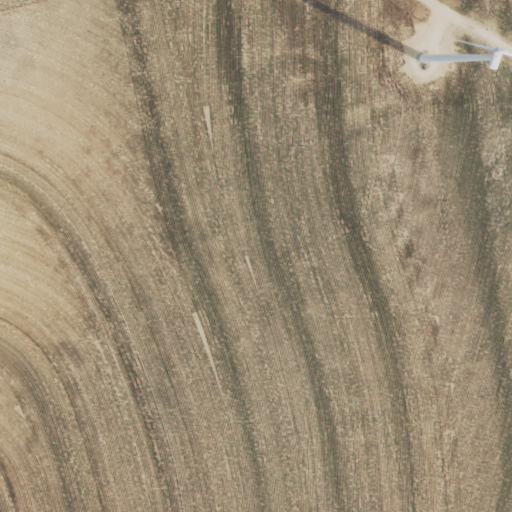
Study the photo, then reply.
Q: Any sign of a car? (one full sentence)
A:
No, there's no car here.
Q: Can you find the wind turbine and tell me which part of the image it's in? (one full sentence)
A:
The wind turbine appears toward the top right of the photo.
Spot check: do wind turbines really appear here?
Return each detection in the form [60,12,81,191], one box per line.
[418,36,512,69]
